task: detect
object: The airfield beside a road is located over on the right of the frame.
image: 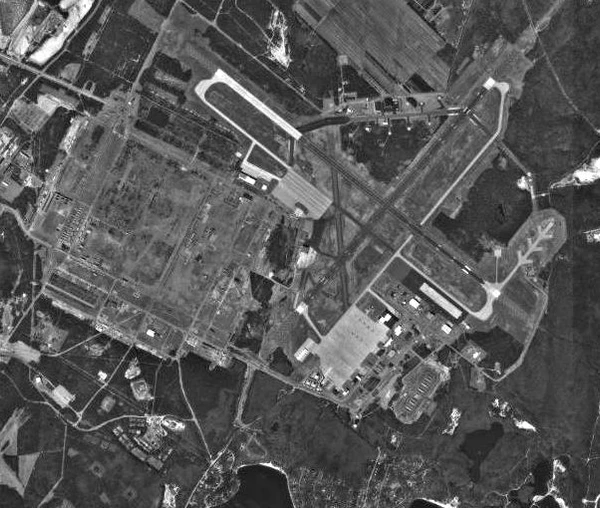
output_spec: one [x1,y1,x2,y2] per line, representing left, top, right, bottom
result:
[195,70,553,390]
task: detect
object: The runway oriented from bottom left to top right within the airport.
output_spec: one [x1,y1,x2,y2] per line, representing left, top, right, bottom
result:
[296,78,496,304]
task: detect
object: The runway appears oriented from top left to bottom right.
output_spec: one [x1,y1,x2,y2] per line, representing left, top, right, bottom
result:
[215,70,486,285]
